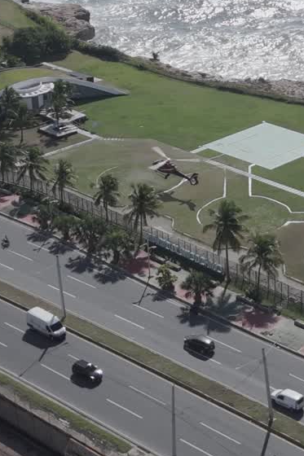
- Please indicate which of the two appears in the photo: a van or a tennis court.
van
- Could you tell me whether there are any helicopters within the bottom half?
No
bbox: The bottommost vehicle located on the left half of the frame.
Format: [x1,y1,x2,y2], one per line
[72,353,110,381]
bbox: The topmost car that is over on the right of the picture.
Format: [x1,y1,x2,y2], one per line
[187,331,222,352]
